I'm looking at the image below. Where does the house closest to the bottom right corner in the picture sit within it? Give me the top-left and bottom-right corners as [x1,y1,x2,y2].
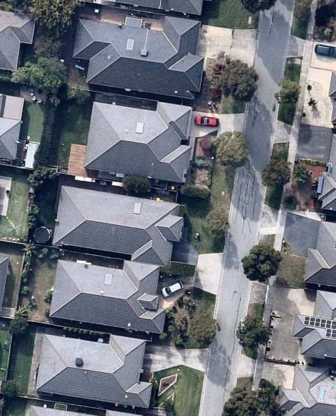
[277,364,336,416]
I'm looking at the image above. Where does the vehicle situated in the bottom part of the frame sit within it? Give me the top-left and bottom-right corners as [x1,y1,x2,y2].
[161,281,183,297]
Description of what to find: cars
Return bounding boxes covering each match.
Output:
[161,281,183,297]
[314,43,336,57]
[194,115,219,127]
